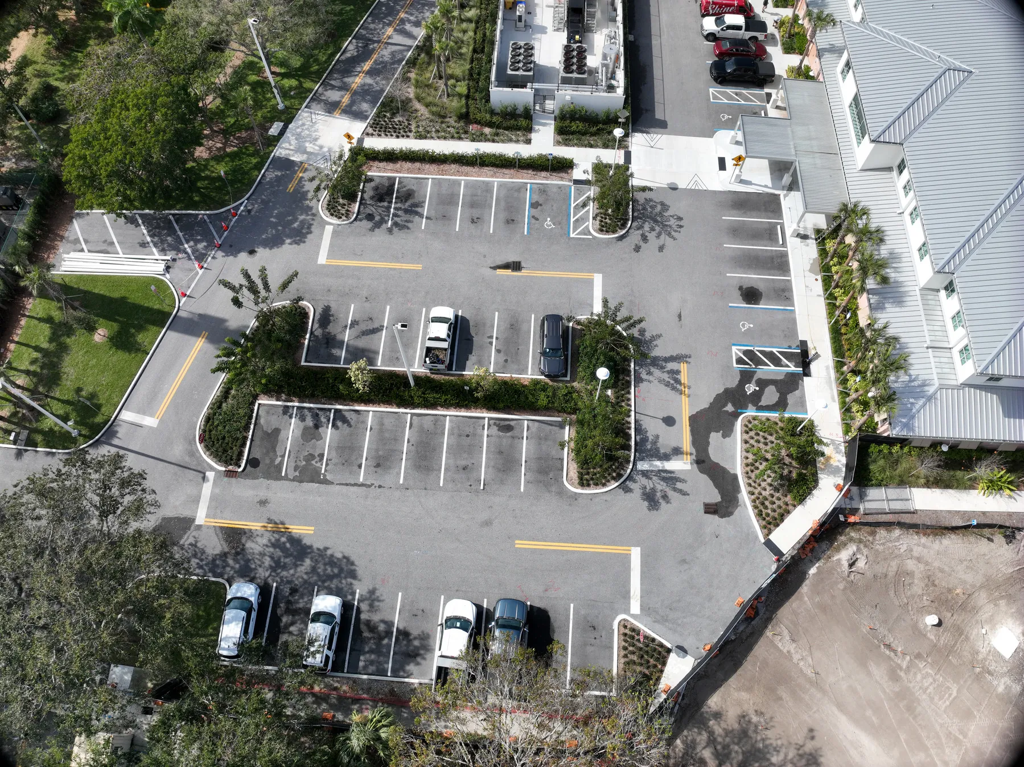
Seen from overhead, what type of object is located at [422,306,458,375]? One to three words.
truck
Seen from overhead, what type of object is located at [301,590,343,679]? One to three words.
car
